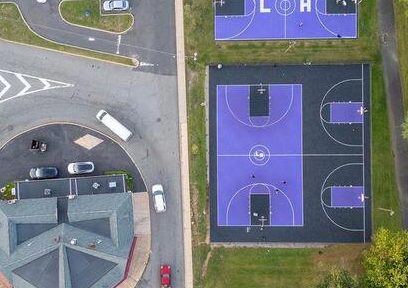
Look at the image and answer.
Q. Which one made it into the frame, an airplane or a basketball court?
basketball court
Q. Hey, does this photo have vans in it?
Yes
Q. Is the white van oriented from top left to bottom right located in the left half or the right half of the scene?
left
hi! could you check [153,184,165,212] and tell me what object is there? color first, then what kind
white vehicle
